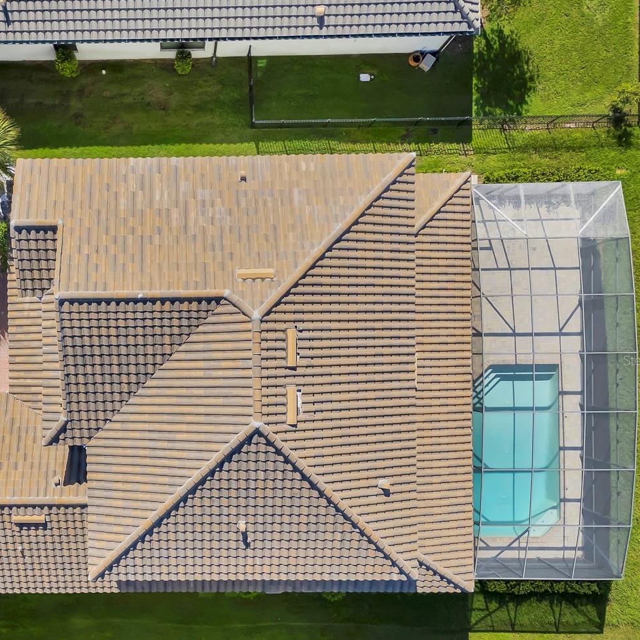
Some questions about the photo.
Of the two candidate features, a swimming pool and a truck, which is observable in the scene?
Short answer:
swimming pool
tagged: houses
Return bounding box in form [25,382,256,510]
[0,148,478,597]
[0,0,485,71]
